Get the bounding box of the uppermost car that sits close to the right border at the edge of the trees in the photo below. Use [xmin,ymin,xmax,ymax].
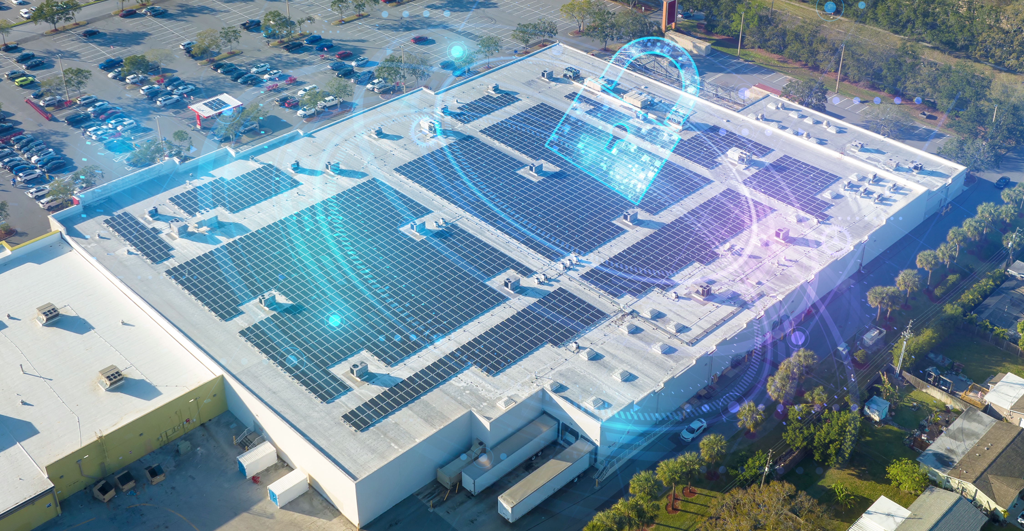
[994,177,1010,191]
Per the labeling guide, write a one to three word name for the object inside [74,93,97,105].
vehicle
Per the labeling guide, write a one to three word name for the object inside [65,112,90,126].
car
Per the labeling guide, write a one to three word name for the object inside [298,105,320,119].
car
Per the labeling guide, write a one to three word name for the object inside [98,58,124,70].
vehicle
